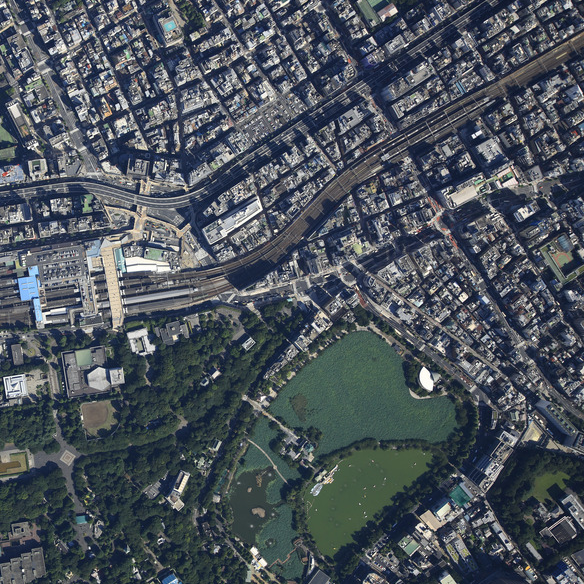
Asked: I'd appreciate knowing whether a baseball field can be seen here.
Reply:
Yes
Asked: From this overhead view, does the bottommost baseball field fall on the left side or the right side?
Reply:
left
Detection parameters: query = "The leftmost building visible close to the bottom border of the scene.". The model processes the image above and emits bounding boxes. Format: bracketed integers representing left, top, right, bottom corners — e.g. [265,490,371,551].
[0,521,46,584]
